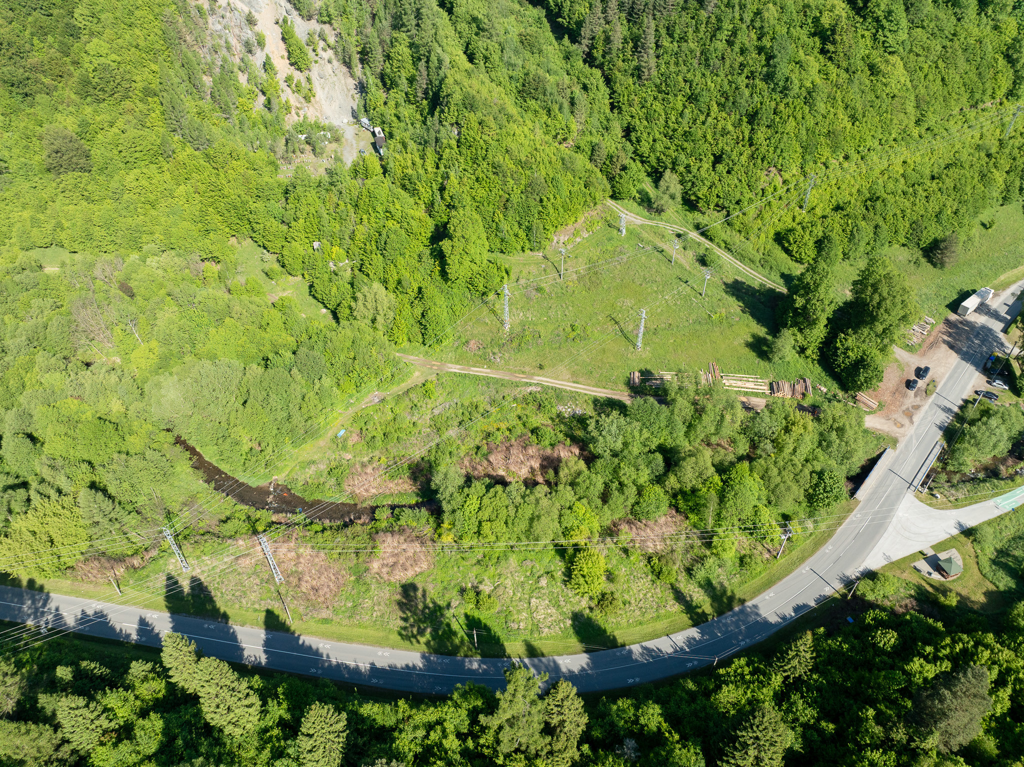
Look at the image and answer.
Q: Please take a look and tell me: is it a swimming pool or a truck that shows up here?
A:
truck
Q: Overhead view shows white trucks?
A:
Yes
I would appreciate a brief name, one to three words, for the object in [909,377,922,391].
vehicle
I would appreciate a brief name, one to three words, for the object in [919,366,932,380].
vehicle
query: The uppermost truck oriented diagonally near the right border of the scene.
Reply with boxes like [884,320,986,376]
[959,286,1000,318]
